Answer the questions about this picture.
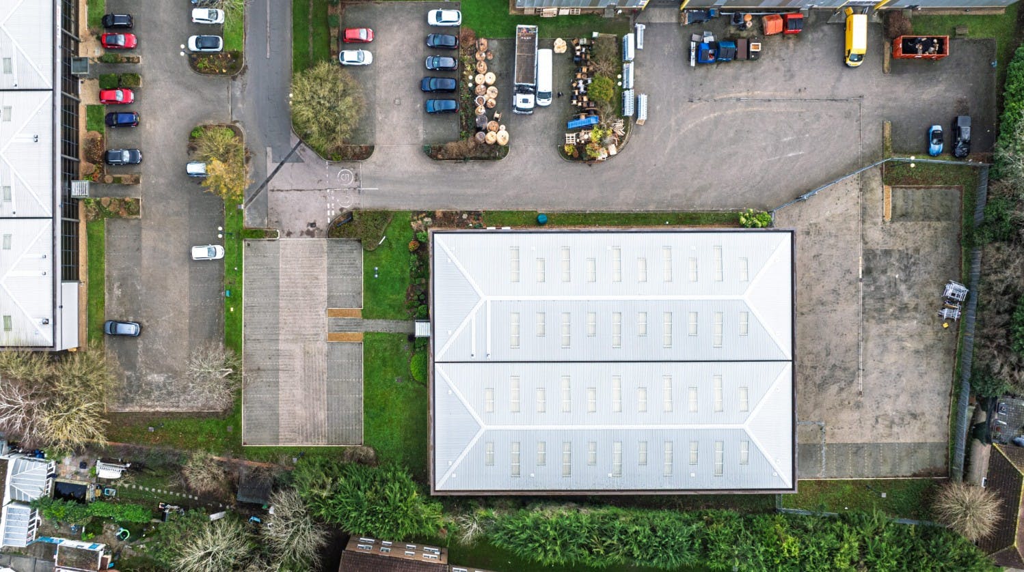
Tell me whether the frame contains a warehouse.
Yes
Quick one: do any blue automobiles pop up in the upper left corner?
Yes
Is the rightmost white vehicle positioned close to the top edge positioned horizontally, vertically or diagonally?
vertically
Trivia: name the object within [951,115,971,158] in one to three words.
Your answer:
vehicle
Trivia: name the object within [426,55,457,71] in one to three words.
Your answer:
car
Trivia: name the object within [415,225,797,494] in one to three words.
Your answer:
warehouse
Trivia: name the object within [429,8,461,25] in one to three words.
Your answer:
car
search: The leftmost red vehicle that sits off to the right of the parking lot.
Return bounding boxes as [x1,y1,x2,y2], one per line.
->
[343,26,374,43]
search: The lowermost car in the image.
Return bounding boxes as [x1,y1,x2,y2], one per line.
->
[106,320,143,336]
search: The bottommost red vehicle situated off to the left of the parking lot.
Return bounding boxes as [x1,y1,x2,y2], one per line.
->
[100,87,136,104]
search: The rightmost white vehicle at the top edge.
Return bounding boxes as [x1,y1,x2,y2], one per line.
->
[845,3,868,65]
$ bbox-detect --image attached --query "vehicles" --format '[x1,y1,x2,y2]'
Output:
[514,24,536,115]
[191,9,225,24]
[845,3,868,65]
[429,8,461,25]
[951,115,971,158]
[343,26,374,43]
[189,34,224,51]
[535,47,553,105]
[107,111,141,127]
[421,76,456,92]
[102,12,134,29]
[106,320,143,336]
[926,125,944,156]
[192,245,225,260]
[101,32,138,49]
[188,161,213,176]
[339,49,373,65]
[427,33,458,49]
[426,55,457,71]
[105,148,143,165]
[100,87,136,104]
[426,98,458,114]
